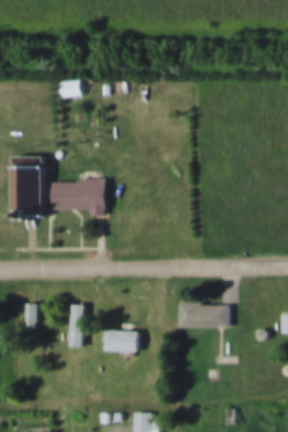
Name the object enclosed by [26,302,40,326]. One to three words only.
building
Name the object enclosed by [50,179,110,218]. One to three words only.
house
